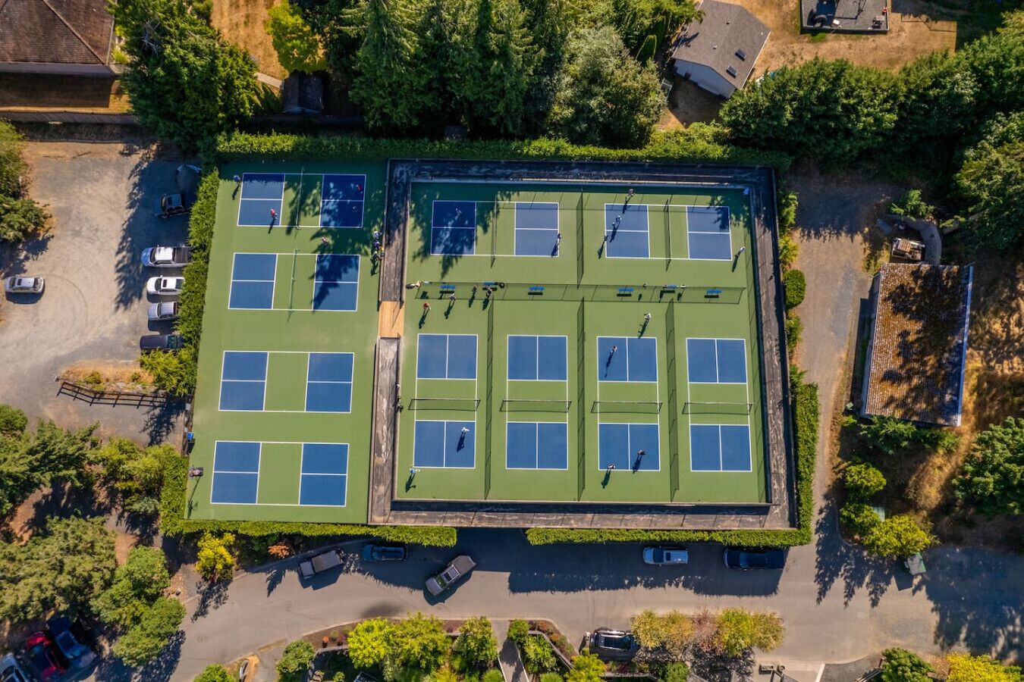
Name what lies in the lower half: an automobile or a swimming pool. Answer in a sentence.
You can see an automobile in the lower half.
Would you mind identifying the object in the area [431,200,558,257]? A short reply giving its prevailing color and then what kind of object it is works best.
blue sports court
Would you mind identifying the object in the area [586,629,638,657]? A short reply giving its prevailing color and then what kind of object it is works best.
black car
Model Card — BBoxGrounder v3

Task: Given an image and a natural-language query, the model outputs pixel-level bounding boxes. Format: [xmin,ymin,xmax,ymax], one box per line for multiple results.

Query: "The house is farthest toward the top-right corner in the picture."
[671,0,772,100]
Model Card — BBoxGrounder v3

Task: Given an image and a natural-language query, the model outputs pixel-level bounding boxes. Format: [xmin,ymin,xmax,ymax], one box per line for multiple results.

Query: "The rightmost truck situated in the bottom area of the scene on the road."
[722,548,787,572]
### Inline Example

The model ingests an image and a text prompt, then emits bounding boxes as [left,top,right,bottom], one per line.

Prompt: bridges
[378,298,404,337]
